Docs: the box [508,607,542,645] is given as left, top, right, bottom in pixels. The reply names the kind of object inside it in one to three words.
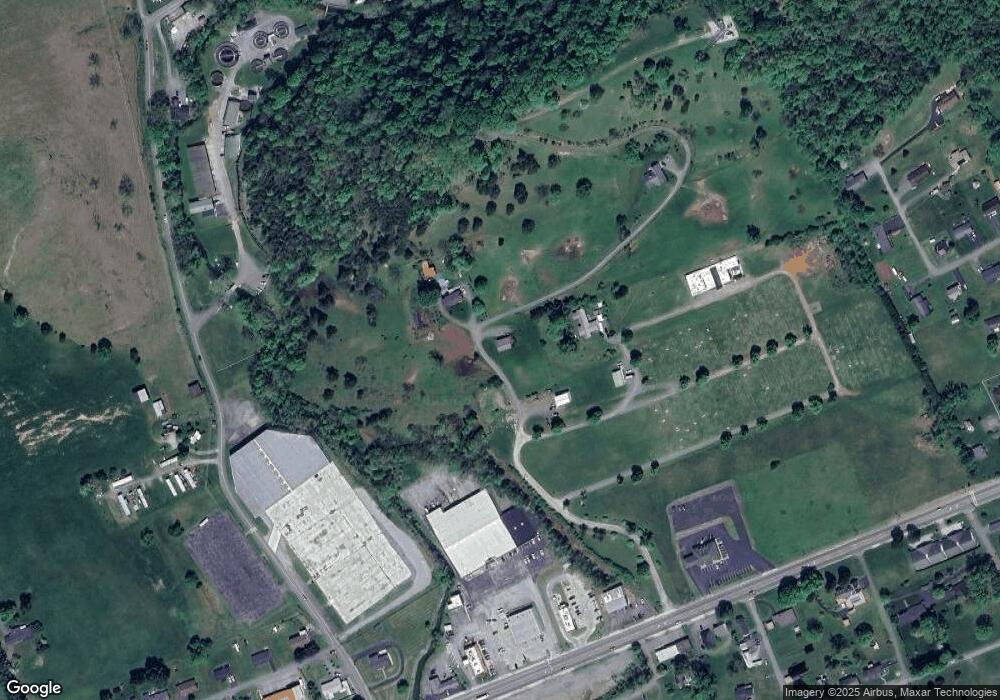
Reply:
building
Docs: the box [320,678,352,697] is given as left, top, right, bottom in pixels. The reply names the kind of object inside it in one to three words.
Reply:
house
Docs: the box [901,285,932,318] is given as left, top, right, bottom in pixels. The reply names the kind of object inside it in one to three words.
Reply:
house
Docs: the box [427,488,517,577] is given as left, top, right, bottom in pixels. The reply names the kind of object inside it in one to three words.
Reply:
building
